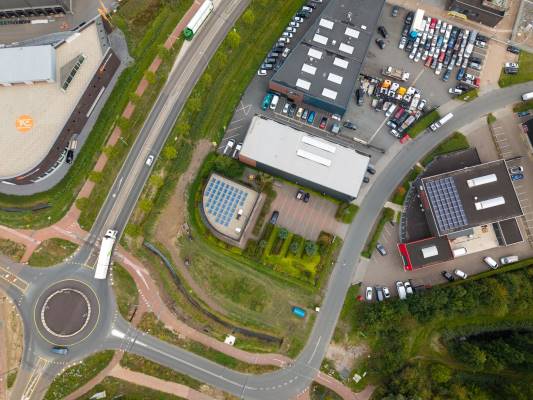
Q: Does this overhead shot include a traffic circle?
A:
Yes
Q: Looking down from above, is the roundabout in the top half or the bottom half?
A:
bottom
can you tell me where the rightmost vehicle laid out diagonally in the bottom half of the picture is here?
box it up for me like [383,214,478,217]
[483,254,499,270]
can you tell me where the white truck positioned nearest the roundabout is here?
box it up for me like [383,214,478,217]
[98,227,122,280]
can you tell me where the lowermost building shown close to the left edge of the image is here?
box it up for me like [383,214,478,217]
[0,15,120,189]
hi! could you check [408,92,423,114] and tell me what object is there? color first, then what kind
white vehicle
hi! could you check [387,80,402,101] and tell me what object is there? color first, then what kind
white vehicle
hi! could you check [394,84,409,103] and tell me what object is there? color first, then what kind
yellow vehicle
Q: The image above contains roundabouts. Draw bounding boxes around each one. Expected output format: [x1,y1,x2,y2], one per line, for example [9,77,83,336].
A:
[23,269,110,358]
